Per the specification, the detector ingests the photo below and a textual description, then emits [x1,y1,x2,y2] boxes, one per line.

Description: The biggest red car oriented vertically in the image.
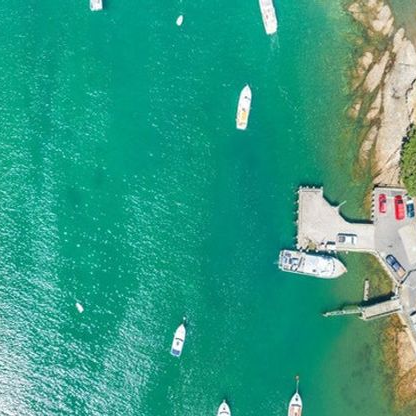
[392,195,405,220]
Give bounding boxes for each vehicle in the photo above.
[376,194,388,214]
[392,195,405,220]
[408,312,416,332]
[404,196,416,219]
[384,254,406,277]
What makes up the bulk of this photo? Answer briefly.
water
